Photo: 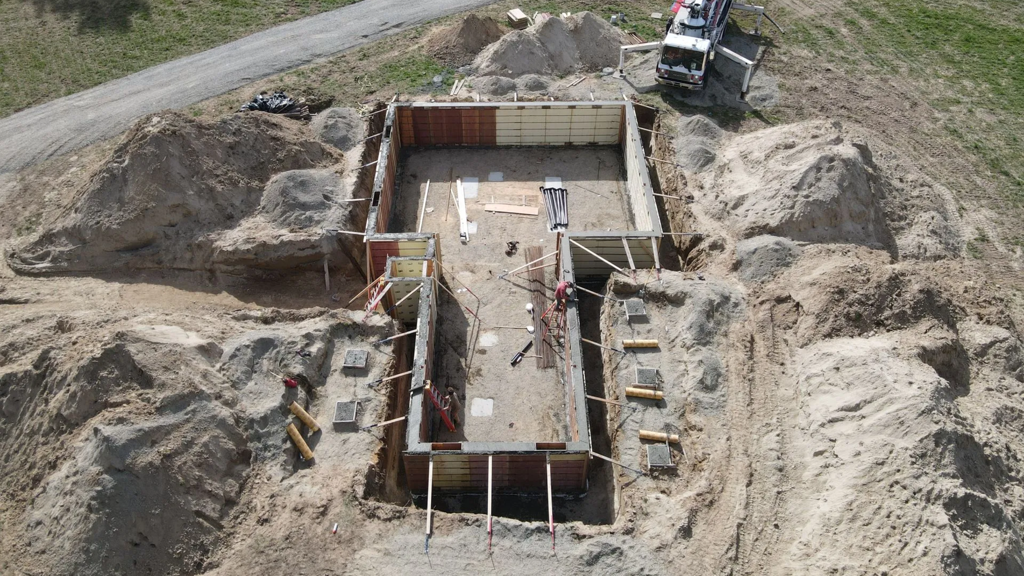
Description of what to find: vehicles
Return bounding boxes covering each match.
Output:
[612,0,764,105]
